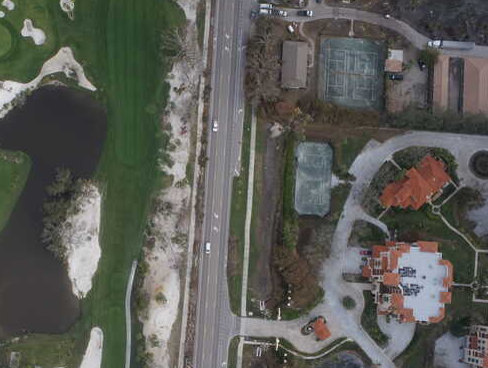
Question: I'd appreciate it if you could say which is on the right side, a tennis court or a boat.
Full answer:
It is a tennis court that can be seen on the right side.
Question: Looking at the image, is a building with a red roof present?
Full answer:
Yes, there's a building with a red roof down there.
